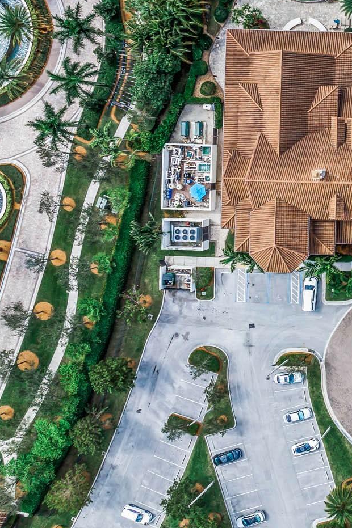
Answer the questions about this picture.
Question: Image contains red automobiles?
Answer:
No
